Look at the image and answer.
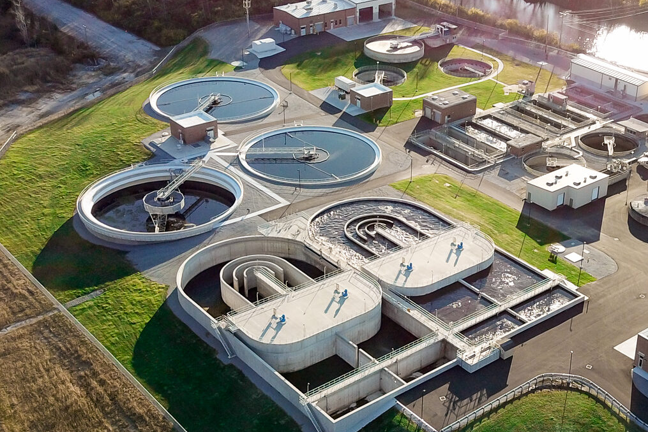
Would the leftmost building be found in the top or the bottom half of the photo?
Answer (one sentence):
You can find the leftmost building in the top half.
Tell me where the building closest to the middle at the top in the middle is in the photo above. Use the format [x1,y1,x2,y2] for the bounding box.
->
[351,83,392,112]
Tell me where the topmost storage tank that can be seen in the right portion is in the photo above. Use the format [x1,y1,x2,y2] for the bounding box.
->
[363,28,440,62]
